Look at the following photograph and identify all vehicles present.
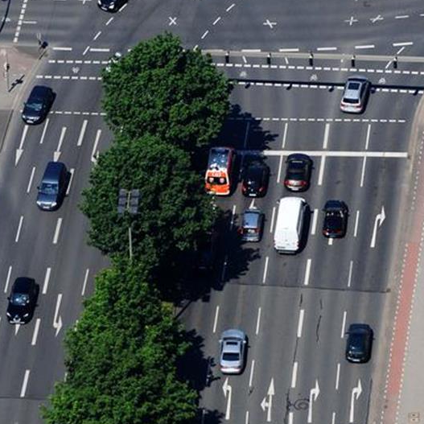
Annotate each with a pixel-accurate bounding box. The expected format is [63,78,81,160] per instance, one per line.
[322,200,351,237]
[341,73,371,115]
[239,206,267,244]
[36,160,68,208]
[22,79,54,126]
[7,279,37,320]
[275,195,309,255]
[242,161,270,198]
[285,150,314,194]
[346,323,375,361]
[96,0,124,11]
[208,148,238,194]
[219,328,249,374]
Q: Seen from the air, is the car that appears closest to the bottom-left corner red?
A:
No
